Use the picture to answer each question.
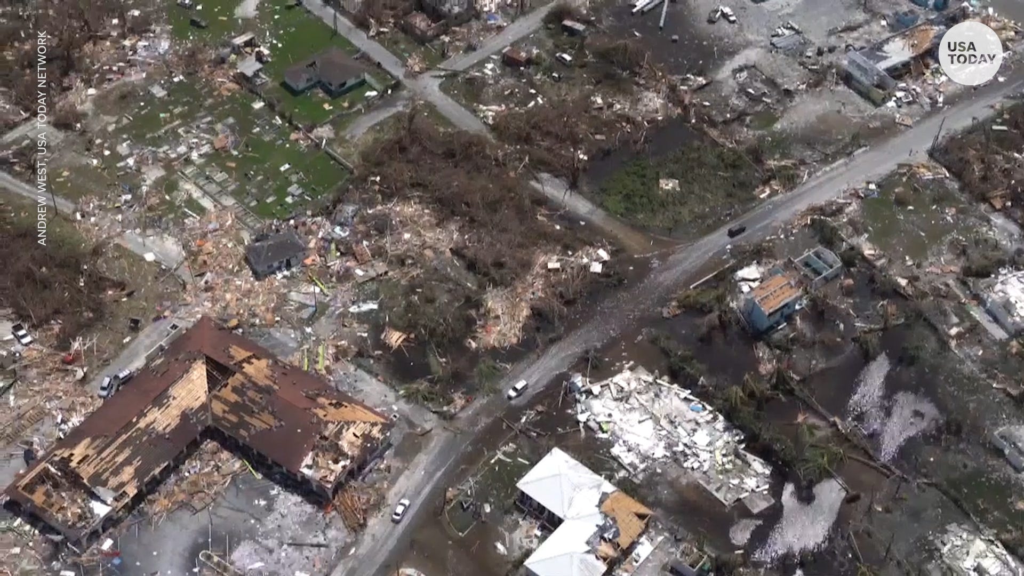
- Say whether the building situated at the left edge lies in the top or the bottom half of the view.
bottom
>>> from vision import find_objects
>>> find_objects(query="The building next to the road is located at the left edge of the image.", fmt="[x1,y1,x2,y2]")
[4,316,395,554]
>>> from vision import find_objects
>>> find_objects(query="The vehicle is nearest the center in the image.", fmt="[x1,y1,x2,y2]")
[505,377,531,401]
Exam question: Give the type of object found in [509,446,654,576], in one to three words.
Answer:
building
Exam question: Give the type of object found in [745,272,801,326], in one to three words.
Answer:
house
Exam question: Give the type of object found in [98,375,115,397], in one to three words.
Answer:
car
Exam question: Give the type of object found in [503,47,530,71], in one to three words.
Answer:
shed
